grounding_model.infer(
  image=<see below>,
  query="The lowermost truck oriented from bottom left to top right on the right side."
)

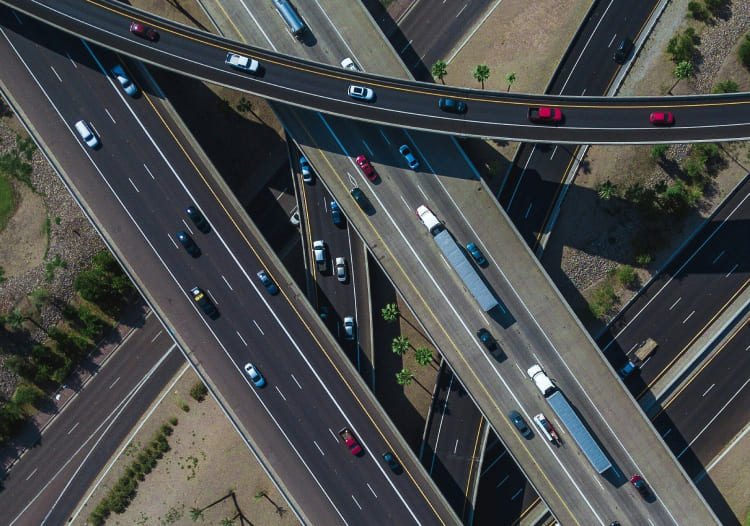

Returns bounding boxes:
[616,337,656,380]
